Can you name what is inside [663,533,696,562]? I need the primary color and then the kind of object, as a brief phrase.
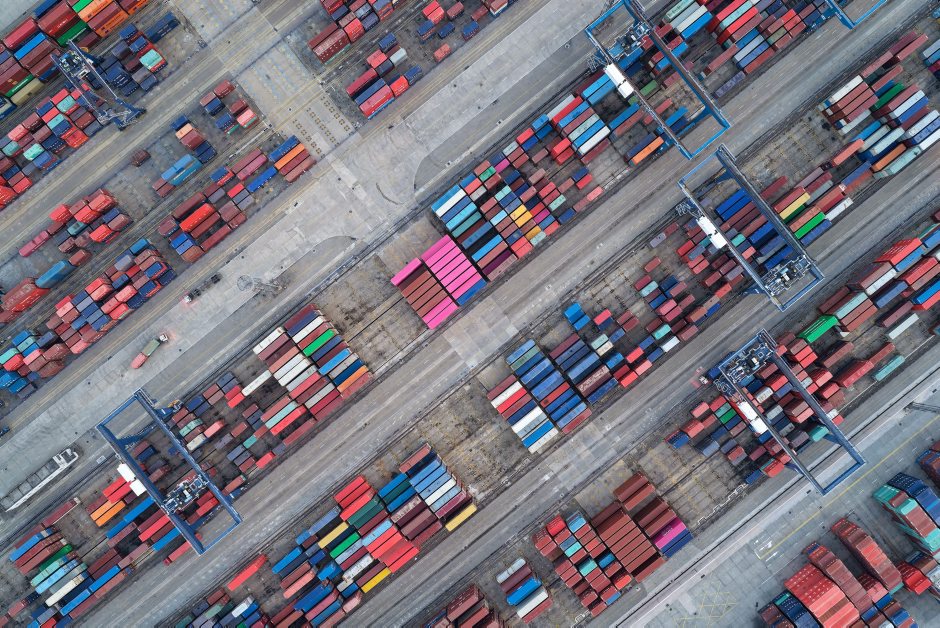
blue shipping container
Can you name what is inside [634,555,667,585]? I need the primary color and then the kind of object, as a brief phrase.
red shipping container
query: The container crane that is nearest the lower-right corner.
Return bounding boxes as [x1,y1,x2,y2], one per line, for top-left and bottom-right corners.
[701,323,871,499]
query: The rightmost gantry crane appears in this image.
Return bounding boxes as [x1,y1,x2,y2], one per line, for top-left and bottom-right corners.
[794,0,890,46]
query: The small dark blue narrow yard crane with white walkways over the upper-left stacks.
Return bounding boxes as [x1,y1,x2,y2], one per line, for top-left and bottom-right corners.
[44,33,148,129]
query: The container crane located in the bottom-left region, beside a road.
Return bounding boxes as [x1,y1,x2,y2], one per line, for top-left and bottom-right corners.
[95,386,258,560]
